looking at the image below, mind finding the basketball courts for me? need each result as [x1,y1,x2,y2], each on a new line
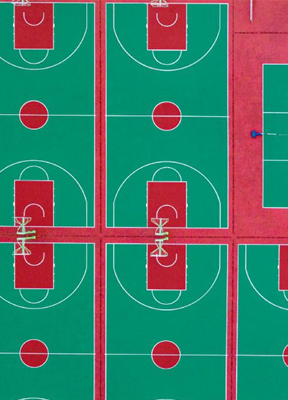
[105,242,228,400]
[0,242,95,400]
[0,1,95,227]
[235,244,288,400]
[105,2,229,229]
